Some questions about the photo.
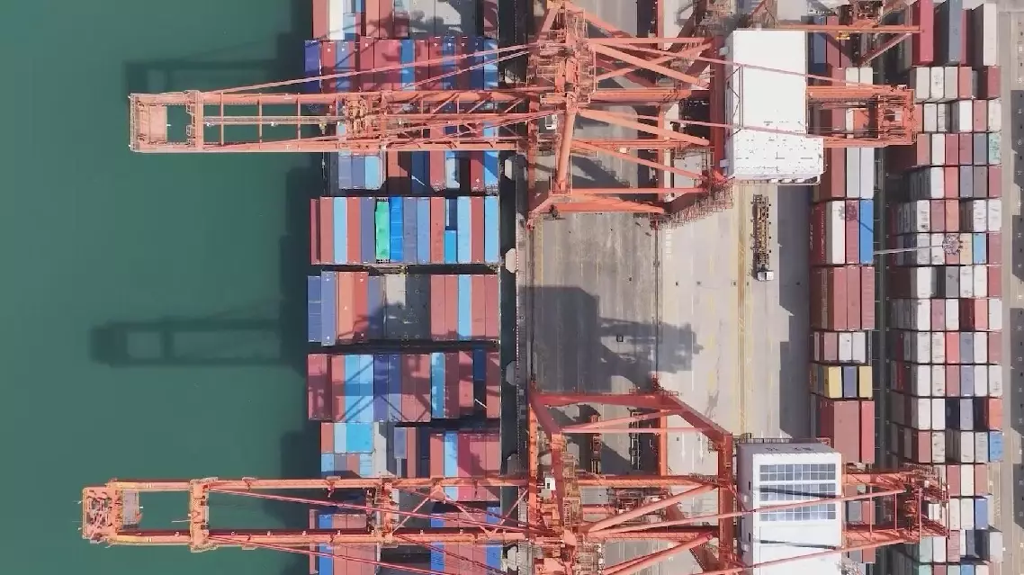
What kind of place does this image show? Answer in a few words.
port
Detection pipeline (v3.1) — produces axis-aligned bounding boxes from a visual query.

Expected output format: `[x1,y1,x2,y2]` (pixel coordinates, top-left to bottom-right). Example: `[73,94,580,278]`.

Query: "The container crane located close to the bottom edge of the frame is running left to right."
[77,374,952,575]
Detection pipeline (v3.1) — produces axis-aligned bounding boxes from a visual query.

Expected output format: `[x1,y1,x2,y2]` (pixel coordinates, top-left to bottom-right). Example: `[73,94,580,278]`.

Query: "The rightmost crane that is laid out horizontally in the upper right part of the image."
[747,0,929,65]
